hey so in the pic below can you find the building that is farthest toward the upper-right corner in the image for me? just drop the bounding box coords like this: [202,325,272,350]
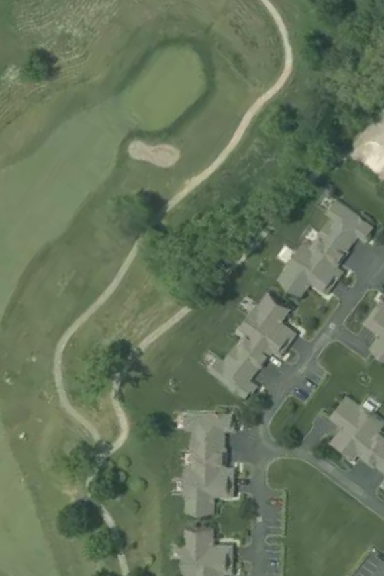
[274,194,379,299]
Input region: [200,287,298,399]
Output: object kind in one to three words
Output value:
house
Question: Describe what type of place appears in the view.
residential area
